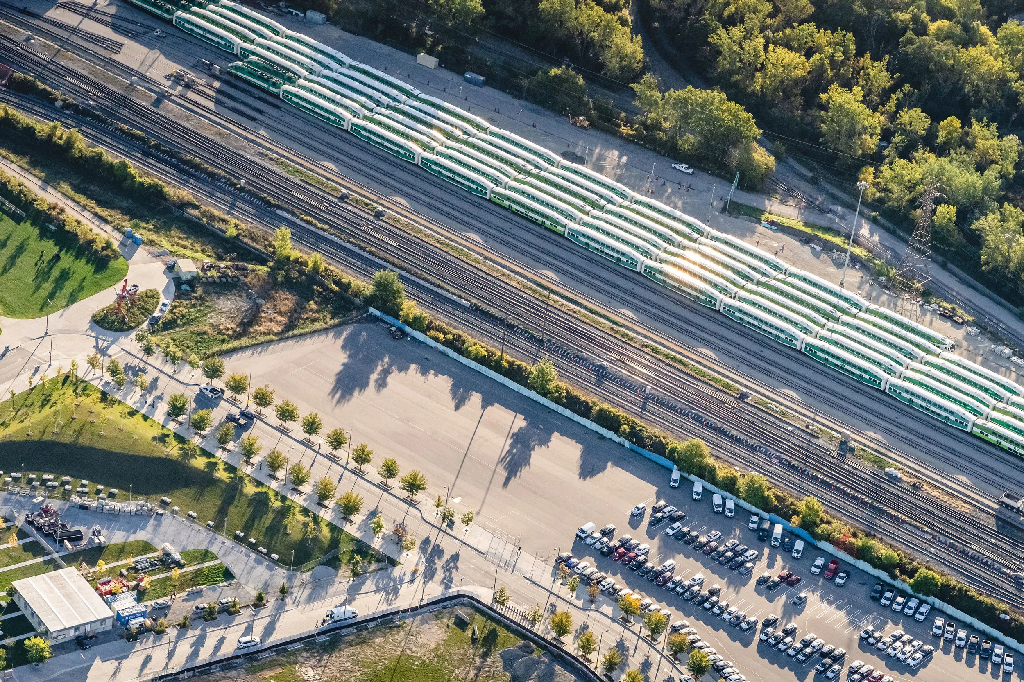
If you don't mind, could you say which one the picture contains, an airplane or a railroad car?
railroad car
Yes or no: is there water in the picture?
No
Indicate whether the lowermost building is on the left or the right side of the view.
left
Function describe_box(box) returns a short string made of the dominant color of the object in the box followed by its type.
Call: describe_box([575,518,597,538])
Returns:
white vehicle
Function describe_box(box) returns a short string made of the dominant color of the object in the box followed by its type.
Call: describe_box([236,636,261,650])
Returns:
white car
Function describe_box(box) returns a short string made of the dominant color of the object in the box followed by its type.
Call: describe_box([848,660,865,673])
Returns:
white vehicle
